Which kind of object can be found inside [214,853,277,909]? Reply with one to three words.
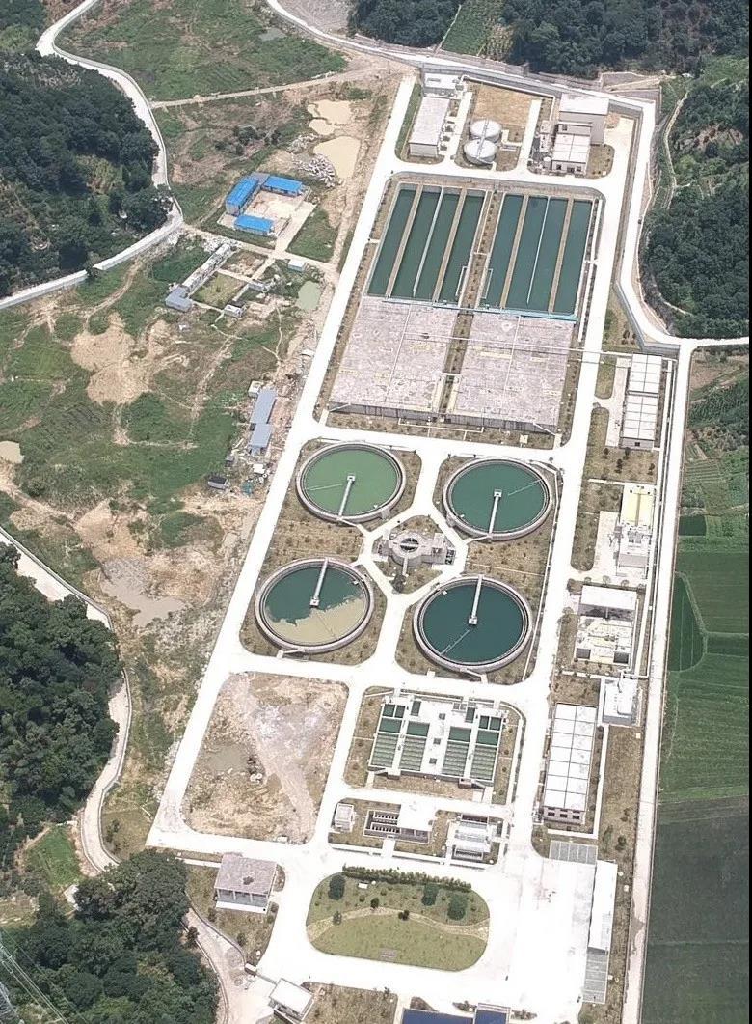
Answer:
house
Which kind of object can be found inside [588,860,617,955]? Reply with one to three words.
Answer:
shed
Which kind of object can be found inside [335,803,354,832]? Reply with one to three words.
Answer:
building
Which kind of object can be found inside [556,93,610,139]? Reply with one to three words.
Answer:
building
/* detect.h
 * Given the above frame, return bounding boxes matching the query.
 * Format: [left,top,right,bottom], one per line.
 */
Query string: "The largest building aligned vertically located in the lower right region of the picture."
[544,702,597,821]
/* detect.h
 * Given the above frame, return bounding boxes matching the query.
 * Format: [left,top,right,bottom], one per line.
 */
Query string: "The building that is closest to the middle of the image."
[372,527,474,576]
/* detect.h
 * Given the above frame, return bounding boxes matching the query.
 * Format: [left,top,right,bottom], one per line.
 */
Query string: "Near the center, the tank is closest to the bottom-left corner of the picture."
[256,557,374,655]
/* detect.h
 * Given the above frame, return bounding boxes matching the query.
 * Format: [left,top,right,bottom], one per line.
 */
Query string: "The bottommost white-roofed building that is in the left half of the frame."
[268,977,313,1019]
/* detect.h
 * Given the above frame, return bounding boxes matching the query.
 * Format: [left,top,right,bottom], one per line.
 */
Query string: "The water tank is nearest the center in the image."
[296,441,406,531]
